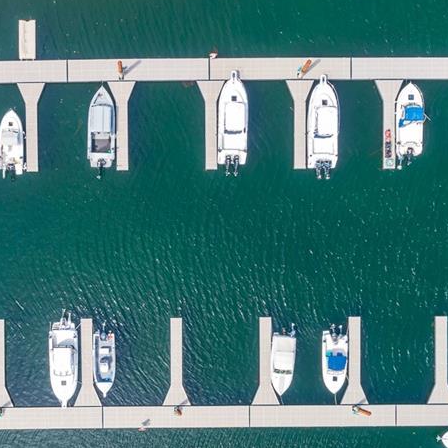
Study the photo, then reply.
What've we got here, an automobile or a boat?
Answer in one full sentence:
It is a boat that can be seen here.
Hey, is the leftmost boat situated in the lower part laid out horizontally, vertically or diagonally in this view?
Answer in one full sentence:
The leftmost boat situated in the lower part has been laid out vertically relative to the frame.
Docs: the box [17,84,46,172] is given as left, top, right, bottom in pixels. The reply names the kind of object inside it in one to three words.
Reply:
pier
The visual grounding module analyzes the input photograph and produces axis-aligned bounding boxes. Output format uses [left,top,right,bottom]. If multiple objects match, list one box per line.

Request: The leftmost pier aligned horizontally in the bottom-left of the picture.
[0,407,102,430]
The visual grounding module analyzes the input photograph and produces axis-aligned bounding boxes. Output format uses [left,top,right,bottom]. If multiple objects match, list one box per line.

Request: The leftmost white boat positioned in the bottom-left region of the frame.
[47,310,79,407]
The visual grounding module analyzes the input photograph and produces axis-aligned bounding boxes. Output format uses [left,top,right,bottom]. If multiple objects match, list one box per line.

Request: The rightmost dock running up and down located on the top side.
[374,80,403,170]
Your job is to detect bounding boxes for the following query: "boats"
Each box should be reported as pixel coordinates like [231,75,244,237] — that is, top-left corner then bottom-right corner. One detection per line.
[88,85,116,178]
[396,82,437,169]
[270,319,297,397]
[217,71,248,177]
[47,310,79,407]
[0,109,24,183]
[307,74,339,183]
[321,316,349,395]
[93,320,115,394]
